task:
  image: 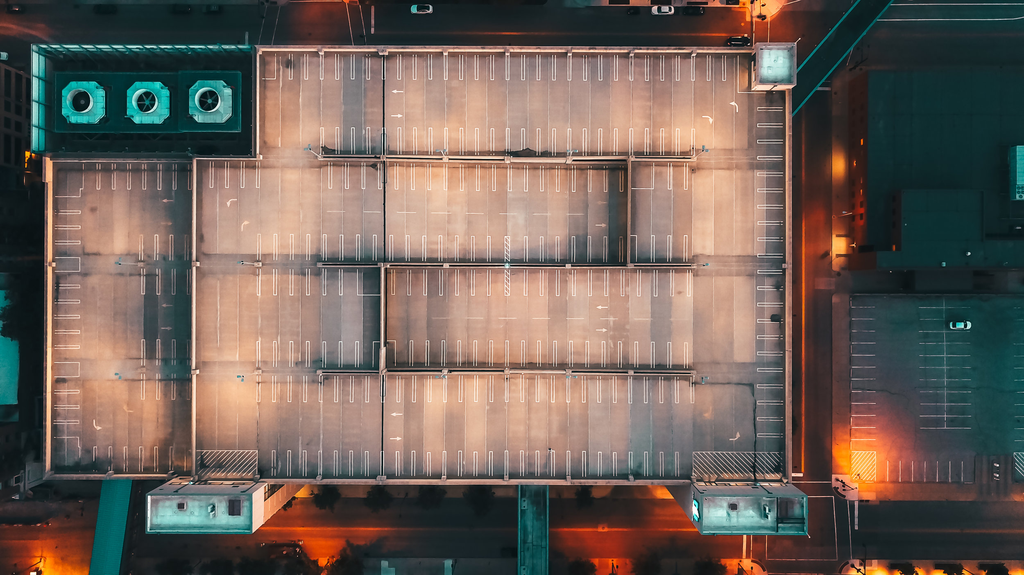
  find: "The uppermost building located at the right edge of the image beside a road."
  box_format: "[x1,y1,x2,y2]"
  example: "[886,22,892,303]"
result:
[831,70,1024,270]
